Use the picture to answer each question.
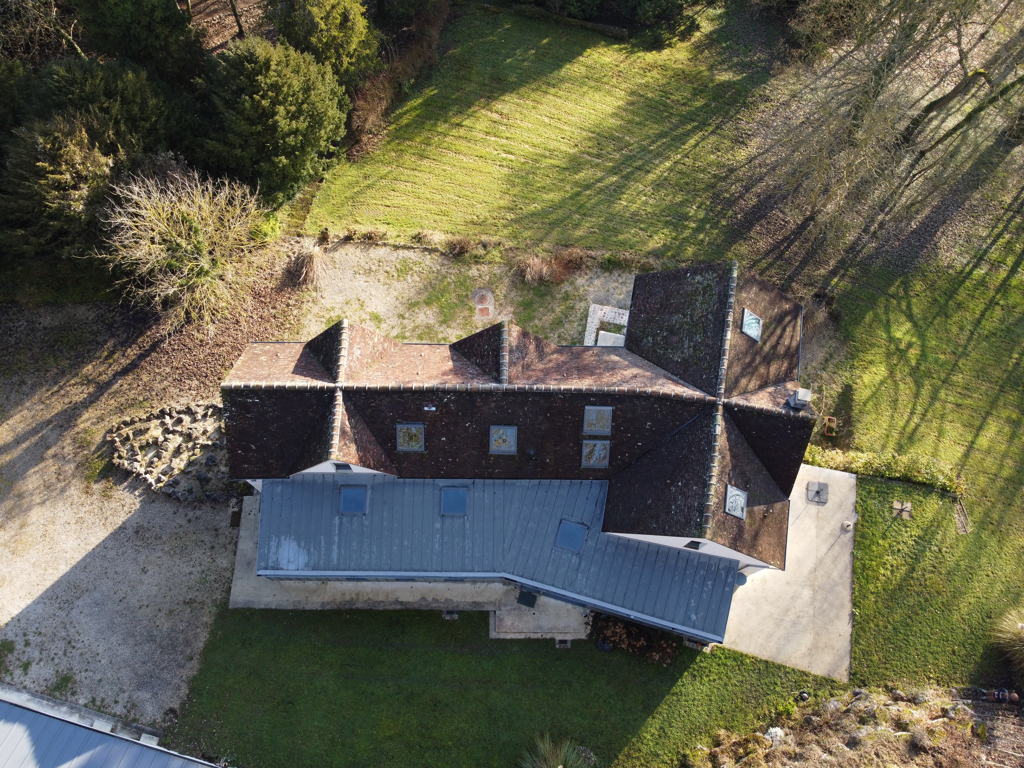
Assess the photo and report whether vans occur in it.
No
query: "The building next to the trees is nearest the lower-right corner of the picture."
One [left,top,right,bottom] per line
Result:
[219,259,818,646]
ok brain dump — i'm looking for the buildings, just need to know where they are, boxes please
[0,694,245,768]
[219,259,818,646]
